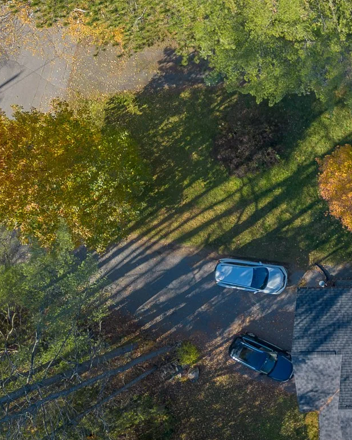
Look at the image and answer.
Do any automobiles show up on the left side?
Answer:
No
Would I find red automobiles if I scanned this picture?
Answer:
No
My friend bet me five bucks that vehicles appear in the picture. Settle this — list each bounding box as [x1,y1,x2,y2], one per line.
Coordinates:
[227,331,293,381]
[217,259,290,296]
